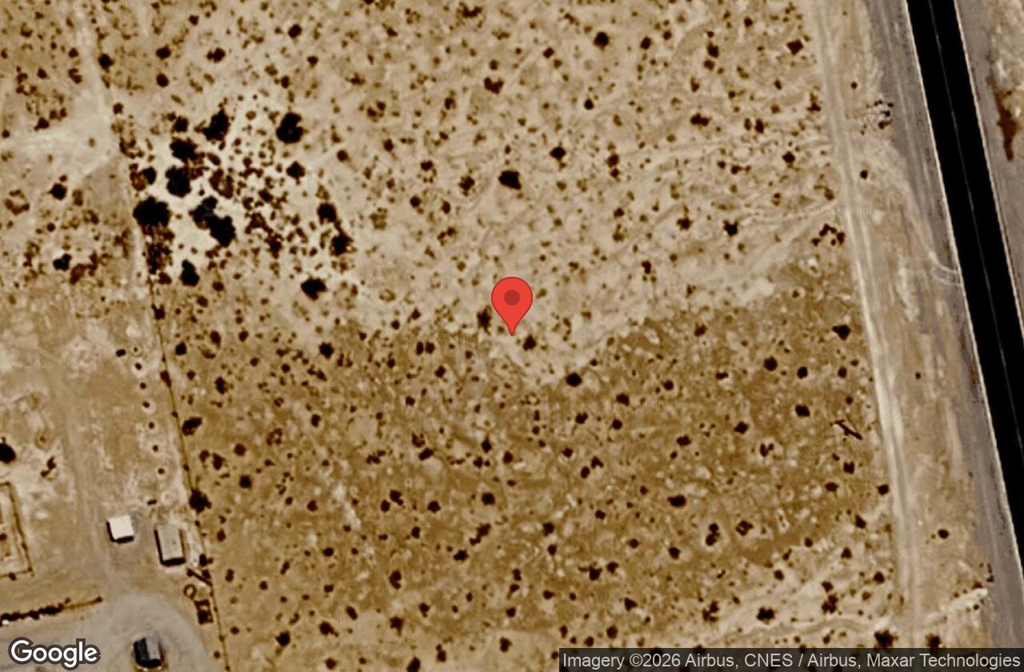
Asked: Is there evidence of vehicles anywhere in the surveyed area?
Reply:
No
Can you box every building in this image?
[133,637,165,664]
[156,524,185,561]
[107,515,134,540]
